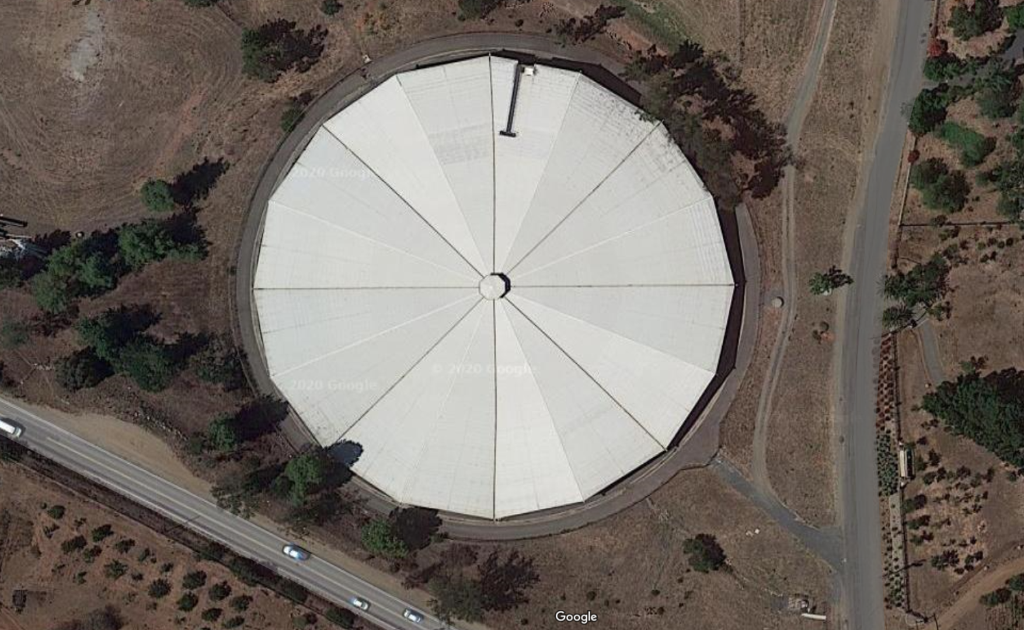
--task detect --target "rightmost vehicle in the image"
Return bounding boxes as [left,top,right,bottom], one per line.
[403,608,423,622]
